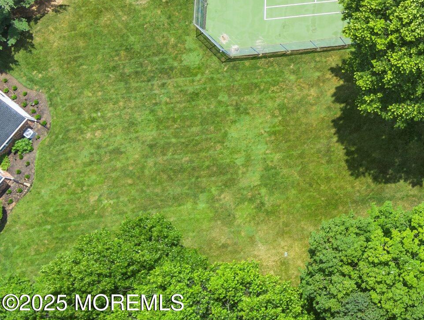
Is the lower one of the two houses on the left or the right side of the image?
left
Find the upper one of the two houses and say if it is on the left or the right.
left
